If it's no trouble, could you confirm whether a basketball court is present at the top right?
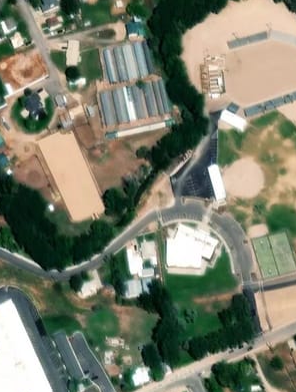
No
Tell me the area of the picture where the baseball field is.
right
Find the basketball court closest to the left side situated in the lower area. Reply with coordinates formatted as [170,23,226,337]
[252,235,279,278]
